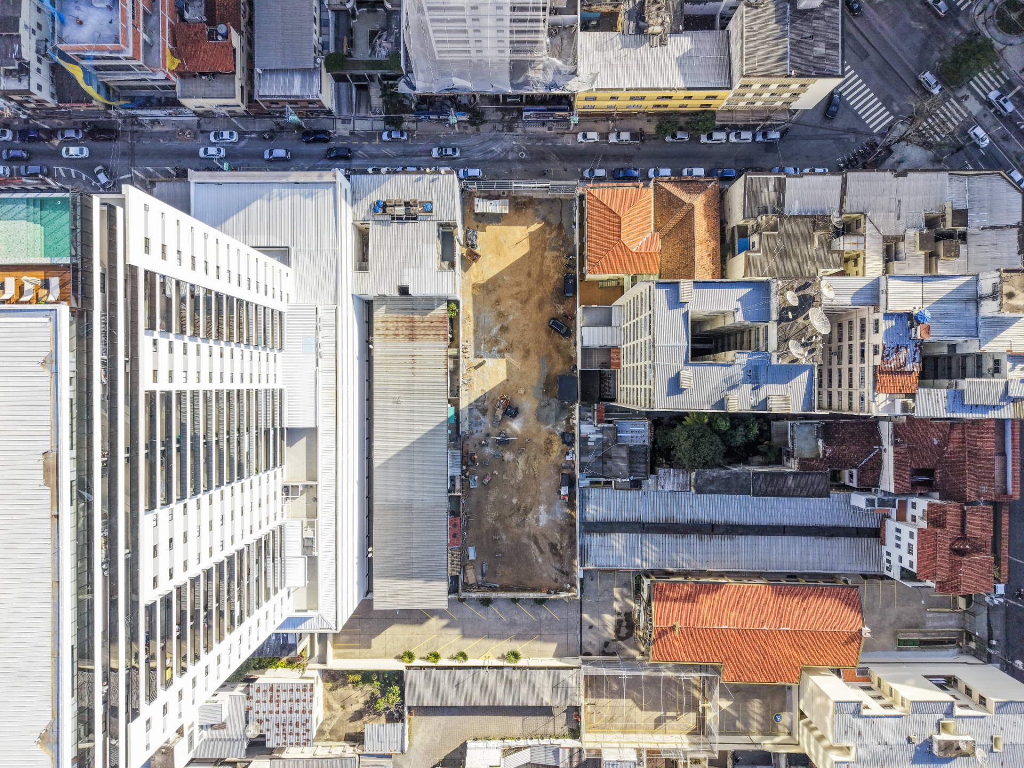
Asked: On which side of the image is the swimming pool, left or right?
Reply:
left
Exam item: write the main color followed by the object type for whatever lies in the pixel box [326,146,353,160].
black car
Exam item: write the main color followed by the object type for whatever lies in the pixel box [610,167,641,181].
blue car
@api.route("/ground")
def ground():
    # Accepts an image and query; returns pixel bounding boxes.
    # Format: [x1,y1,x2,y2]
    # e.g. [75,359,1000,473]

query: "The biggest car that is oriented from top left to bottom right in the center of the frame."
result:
[546,317,574,340]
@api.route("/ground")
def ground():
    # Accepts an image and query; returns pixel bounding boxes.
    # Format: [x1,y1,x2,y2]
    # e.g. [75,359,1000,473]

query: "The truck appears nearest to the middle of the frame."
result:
[488,391,515,430]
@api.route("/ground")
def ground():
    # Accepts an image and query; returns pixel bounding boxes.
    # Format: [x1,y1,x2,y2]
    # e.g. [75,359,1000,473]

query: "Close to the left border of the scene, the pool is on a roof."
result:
[0,194,63,257]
